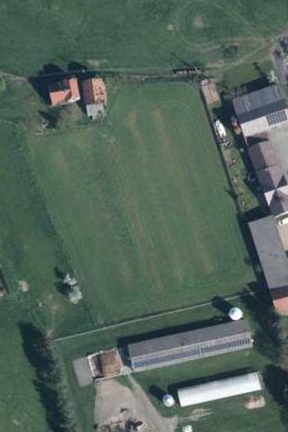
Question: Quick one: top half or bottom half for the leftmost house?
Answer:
top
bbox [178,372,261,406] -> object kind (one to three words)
building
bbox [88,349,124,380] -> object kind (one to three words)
building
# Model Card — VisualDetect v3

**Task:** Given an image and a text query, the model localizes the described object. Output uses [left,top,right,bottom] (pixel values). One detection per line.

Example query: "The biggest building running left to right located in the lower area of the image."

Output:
[128,322,252,371]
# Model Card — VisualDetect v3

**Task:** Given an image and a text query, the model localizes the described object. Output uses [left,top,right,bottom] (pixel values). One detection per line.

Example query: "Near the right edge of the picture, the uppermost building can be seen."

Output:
[233,85,288,136]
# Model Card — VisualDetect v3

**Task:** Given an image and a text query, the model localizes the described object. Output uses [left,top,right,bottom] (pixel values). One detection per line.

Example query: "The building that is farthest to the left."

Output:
[49,77,80,105]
